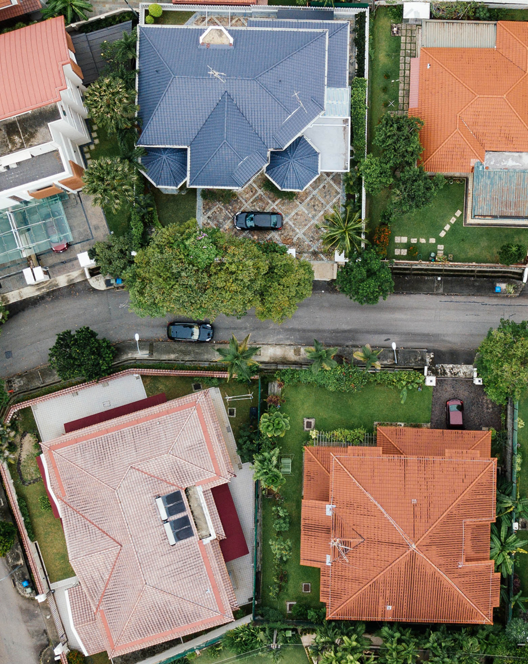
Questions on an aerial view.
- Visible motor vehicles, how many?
4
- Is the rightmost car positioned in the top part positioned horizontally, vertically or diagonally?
horizontally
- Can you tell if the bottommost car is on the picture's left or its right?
right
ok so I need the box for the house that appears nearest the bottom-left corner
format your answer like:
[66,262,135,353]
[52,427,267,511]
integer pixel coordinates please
[35,388,249,659]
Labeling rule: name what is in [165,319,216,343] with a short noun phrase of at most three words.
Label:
car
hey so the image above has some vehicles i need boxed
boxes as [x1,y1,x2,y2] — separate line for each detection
[443,394,466,430]
[40,211,72,258]
[235,208,284,232]
[165,319,216,343]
